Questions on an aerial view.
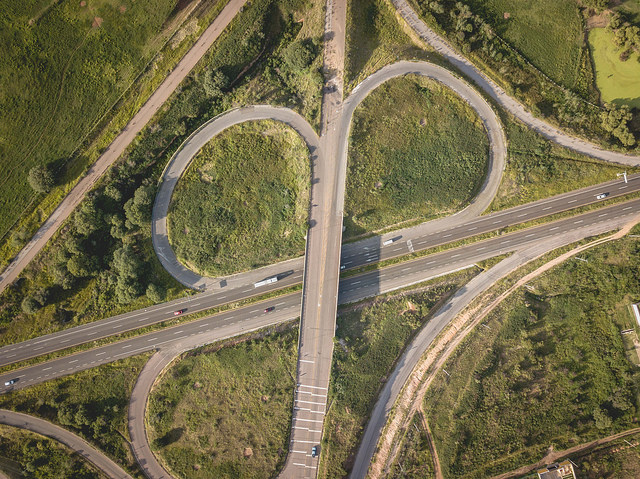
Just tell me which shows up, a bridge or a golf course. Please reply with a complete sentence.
I can see a bridge in this picture.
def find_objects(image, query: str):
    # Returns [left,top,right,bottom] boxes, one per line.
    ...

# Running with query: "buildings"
[629,300,640,326]
[536,458,576,479]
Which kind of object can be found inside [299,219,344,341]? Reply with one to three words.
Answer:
bridge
